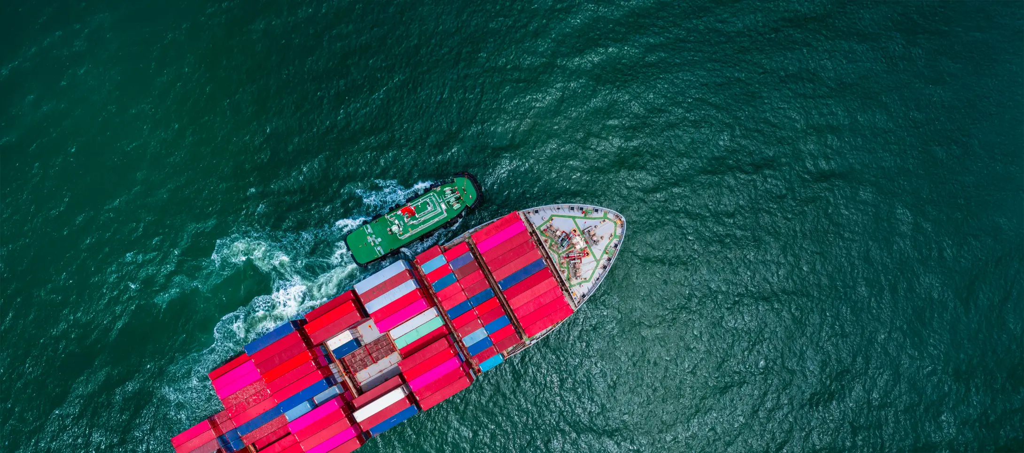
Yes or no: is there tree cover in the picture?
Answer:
No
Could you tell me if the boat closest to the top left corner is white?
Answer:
No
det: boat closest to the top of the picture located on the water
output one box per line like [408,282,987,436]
[345,172,483,268]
